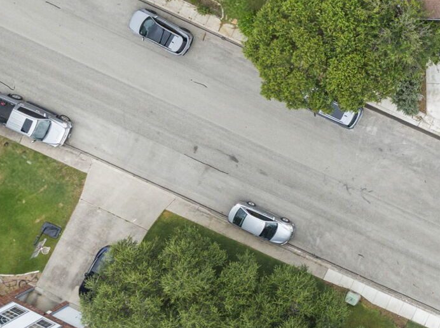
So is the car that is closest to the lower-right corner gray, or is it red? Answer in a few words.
gray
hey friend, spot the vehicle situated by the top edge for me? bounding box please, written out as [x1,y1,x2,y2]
[130,8,194,54]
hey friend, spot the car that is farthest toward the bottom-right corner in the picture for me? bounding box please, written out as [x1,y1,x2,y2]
[228,199,293,243]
